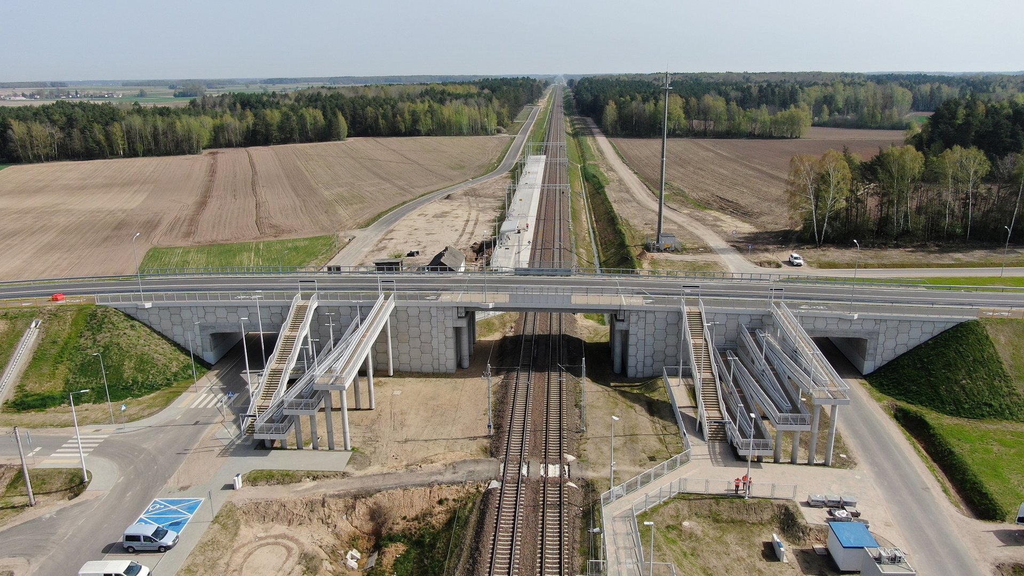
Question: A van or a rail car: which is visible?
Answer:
van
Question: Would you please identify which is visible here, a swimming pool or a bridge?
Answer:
bridge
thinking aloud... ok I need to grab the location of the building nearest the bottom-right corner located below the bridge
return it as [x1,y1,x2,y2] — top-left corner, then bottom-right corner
[866,542,917,576]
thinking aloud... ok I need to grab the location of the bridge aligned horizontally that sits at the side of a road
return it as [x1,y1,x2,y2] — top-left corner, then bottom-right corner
[100,275,988,372]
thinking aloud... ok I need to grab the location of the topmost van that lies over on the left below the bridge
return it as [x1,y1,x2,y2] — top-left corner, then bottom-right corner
[121,521,185,552]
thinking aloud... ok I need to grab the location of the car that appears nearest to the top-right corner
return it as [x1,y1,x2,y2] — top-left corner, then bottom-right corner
[783,254,804,266]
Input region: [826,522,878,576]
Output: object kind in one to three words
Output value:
building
